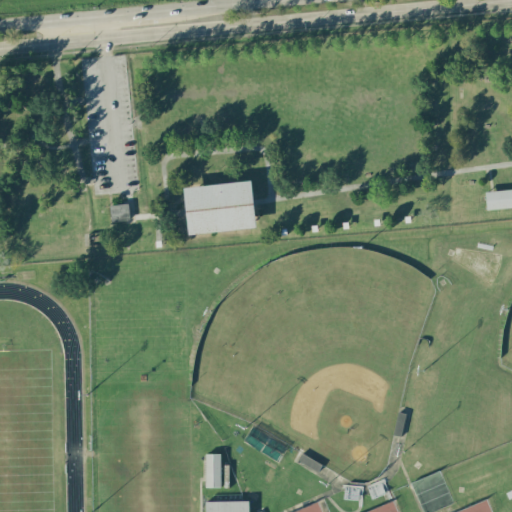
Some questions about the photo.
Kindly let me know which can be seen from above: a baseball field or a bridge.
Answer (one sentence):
It is a baseball field that can be seen here.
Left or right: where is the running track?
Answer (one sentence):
The running track sits on the left side.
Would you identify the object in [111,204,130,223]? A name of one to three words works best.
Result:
building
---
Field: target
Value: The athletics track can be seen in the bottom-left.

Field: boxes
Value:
[0,281,88,512]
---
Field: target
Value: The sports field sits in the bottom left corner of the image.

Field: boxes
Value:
[0,348,56,512]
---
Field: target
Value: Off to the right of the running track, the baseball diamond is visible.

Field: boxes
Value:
[192,248,435,482]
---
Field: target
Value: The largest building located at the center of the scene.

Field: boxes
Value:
[184,181,256,236]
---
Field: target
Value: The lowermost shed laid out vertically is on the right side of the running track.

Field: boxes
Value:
[206,454,222,488]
